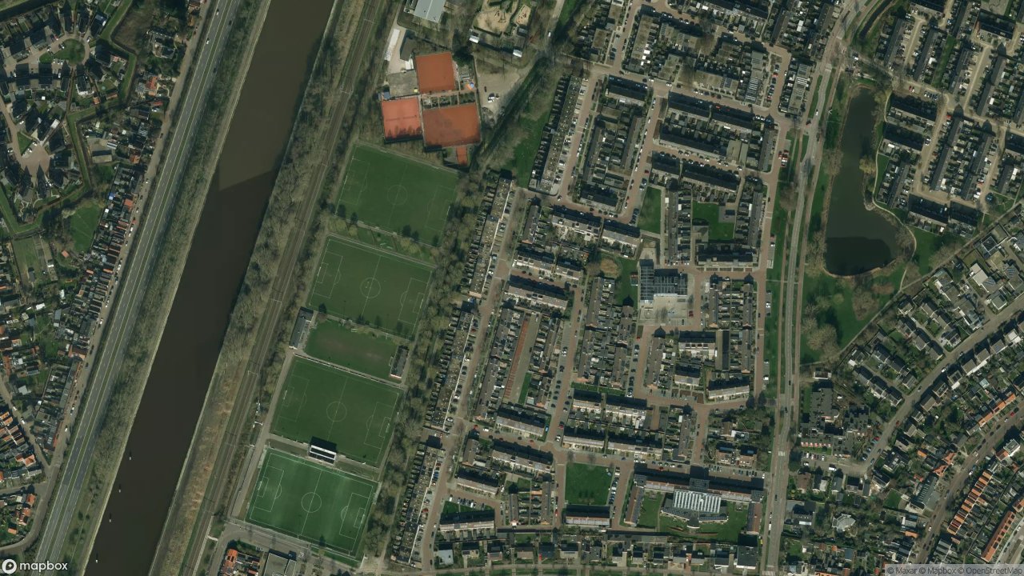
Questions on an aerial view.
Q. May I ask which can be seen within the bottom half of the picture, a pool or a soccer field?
soccer field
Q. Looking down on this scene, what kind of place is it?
residential area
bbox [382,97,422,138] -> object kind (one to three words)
tennis court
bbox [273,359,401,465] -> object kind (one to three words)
soccer field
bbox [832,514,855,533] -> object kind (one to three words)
building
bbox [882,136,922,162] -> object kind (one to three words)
house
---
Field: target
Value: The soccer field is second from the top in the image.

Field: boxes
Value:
[307,238,434,335]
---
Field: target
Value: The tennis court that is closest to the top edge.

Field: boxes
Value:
[415,52,454,93]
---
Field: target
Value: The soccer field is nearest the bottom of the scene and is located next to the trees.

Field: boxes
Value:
[244,447,379,555]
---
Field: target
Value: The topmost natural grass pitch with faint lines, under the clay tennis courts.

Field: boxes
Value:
[334,143,459,248]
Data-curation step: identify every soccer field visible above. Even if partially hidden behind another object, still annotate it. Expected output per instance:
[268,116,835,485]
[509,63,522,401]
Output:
[244,447,379,555]
[307,238,434,335]
[304,319,399,377]
[334,143,459,248]
[273,359,401,465]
